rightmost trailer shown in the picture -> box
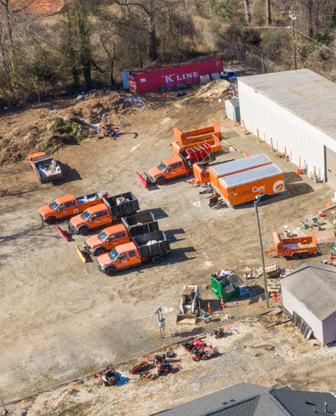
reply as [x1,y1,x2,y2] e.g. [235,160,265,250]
[265,233,317,259]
